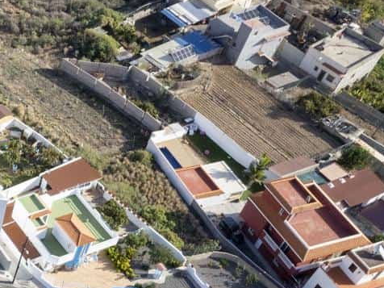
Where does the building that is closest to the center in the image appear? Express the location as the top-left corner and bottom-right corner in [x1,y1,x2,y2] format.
[151,122,188,151]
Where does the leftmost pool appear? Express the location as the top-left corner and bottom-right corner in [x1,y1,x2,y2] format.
[161,149,184,171]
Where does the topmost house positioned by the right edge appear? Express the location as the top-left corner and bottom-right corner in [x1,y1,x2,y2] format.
[300,22,384,90]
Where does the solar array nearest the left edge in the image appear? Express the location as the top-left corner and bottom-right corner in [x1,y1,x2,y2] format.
[170,45,197,61]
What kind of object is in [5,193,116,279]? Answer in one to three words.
house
